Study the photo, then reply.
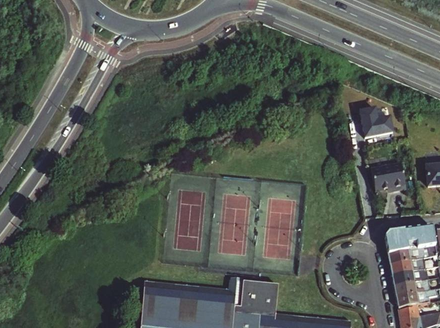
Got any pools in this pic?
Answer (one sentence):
No, I can't see a single pool in this photo.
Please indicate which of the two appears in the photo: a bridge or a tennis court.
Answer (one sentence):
Looking from above, you can make out a tennis court.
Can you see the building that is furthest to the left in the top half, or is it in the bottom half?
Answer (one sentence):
Seen from above, the building that is furthest to the left lies in the bottom half of the view.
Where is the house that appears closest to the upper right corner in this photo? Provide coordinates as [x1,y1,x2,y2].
[359,106,393,140]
